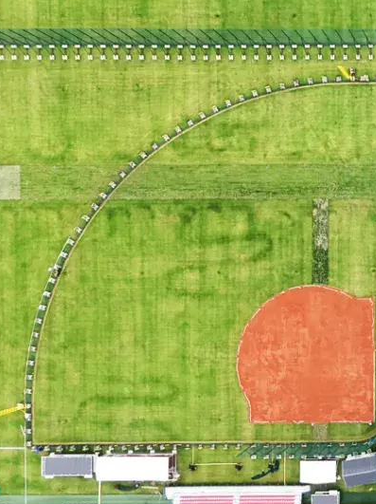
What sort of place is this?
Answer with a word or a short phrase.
sports ground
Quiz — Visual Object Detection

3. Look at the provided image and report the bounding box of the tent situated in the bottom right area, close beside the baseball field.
[300,458,340,484]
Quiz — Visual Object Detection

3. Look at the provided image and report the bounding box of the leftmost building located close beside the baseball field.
[42,454,99,479]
